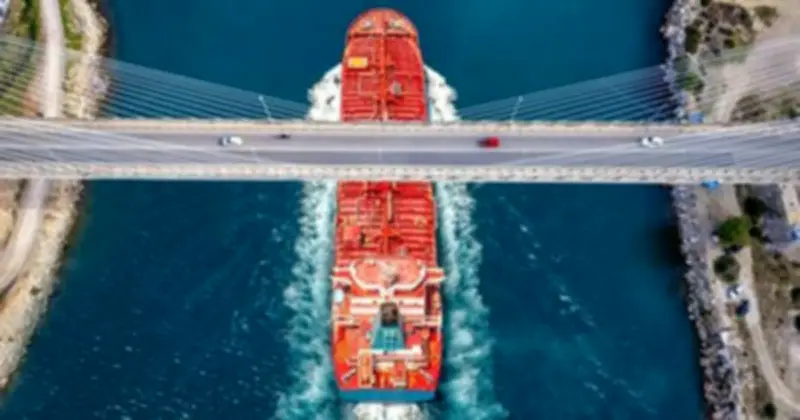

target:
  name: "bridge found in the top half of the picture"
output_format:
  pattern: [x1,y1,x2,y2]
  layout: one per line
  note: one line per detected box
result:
[0,30,800,182]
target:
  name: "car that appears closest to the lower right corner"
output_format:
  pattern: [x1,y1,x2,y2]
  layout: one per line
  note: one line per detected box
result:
[740,300,753,319]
